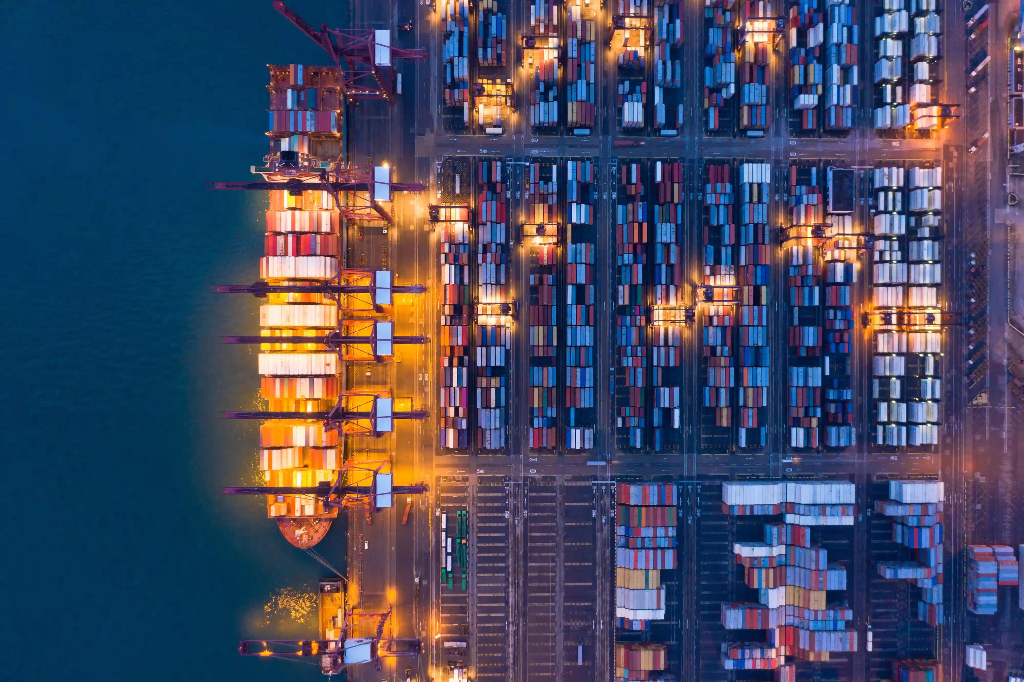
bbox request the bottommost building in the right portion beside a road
[827,163,856,212]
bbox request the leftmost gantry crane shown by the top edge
[259,0,428,107]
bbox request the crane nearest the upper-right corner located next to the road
[900,103,963,130]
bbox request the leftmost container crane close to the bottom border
[239,602,422,671]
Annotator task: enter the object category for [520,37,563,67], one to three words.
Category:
container crane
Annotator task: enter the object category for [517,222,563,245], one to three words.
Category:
container crane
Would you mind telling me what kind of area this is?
port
